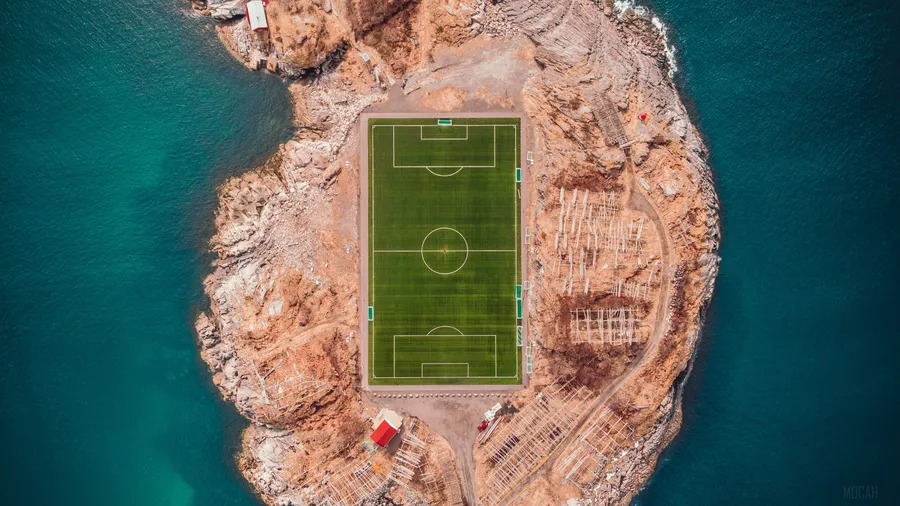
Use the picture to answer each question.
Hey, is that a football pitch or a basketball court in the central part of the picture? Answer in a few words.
football pitch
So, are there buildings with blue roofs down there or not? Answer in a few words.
No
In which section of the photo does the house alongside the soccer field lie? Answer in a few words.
bottom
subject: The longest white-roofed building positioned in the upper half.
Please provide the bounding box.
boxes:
[249,3,270,35]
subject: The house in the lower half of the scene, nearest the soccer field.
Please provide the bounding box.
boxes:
[371,402,407,446]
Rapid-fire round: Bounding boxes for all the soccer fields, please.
[367,119,522,385]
